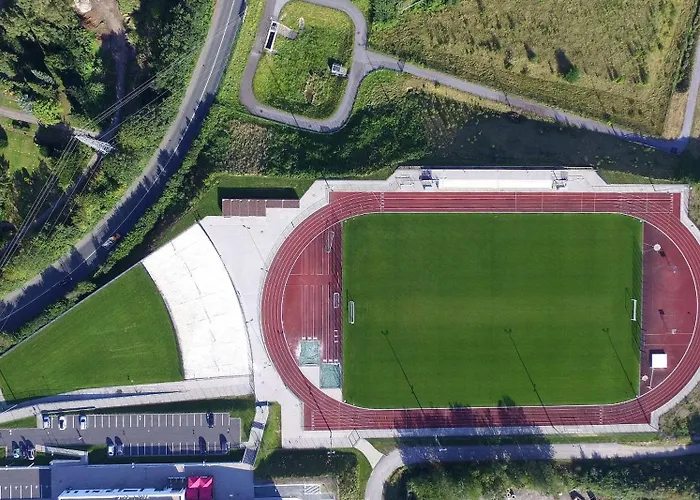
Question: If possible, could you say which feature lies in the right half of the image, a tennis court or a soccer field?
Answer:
soccer field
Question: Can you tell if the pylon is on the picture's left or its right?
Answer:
left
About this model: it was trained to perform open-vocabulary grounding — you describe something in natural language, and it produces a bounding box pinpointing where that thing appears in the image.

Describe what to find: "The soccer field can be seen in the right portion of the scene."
[342,213,644,408]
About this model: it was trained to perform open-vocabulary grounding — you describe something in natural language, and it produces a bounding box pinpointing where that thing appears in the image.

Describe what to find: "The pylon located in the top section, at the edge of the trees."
[70,133,114,157]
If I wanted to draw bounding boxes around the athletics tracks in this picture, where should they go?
[261,192,700,430]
